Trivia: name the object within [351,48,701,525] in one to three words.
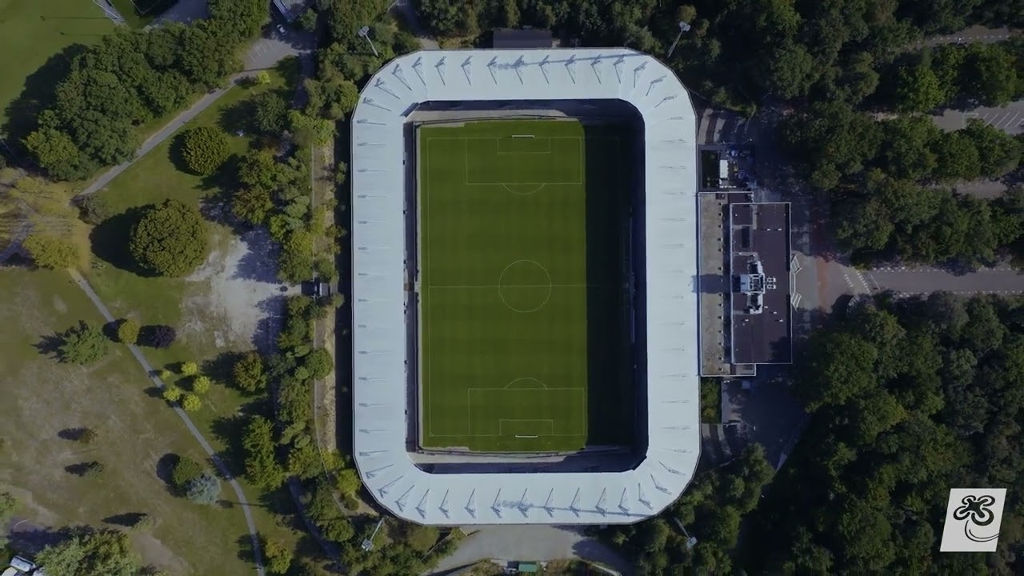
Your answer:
stadium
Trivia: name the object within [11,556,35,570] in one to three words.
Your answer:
vehicle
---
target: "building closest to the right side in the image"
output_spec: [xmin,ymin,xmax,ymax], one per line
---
[698,191,801,376]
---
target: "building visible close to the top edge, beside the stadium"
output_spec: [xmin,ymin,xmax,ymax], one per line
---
[493,27,552,49]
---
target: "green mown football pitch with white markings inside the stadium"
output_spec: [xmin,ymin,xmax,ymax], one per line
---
[421,120,630,453]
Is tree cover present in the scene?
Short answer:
Yes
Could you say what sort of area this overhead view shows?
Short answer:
sports ground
